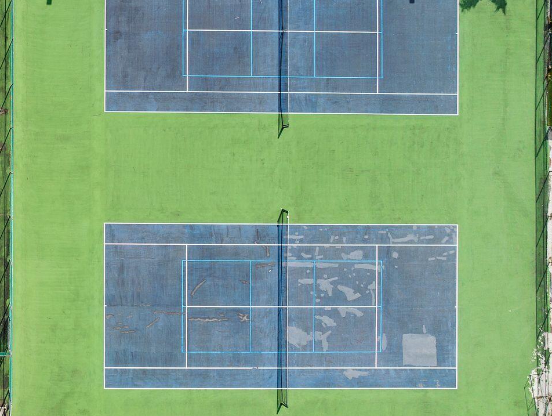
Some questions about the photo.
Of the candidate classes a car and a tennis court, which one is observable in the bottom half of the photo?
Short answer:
tennis court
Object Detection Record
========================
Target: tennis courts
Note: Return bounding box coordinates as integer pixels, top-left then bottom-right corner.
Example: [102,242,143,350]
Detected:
[104,0,458,115]
[104,223,458,389]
